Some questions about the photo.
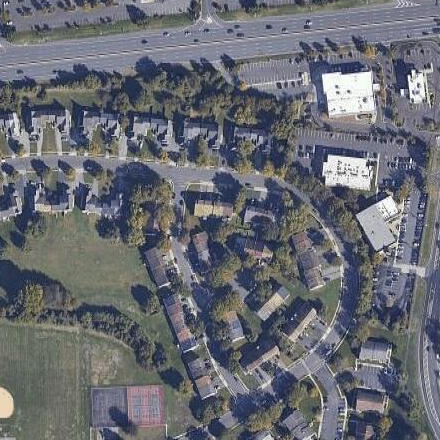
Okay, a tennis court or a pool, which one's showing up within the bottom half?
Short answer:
tennis court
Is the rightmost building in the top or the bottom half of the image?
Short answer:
top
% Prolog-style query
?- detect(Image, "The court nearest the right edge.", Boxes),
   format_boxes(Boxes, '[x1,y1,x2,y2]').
[127,385,165,426]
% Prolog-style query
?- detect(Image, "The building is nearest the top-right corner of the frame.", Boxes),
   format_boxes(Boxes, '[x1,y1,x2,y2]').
[400,69,431,108]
